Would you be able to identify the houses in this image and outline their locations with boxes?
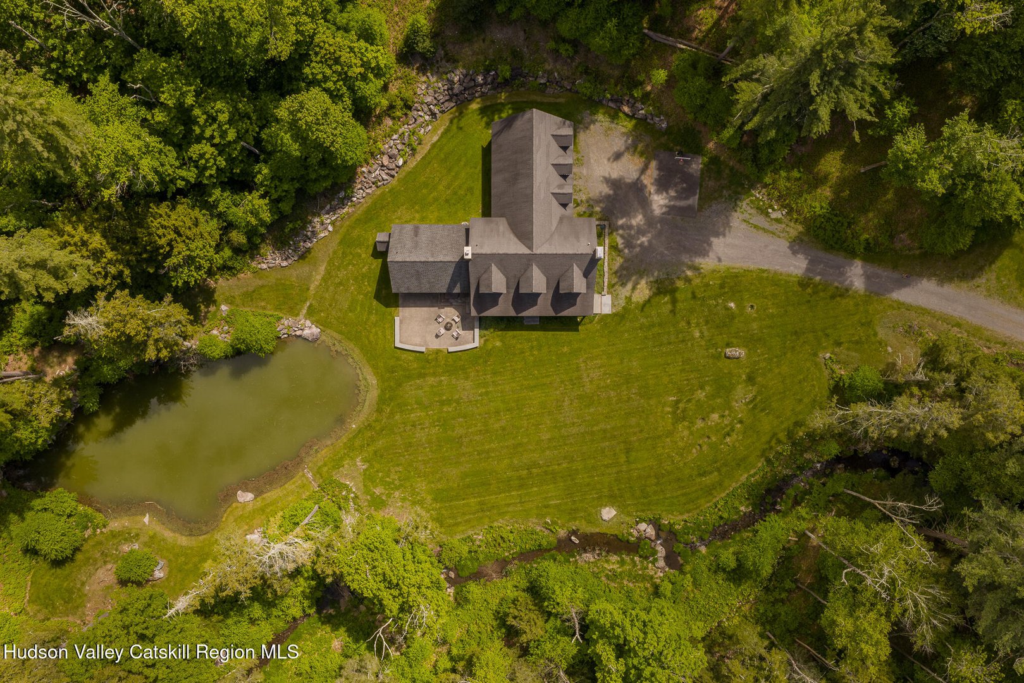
[376,109,603,316]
